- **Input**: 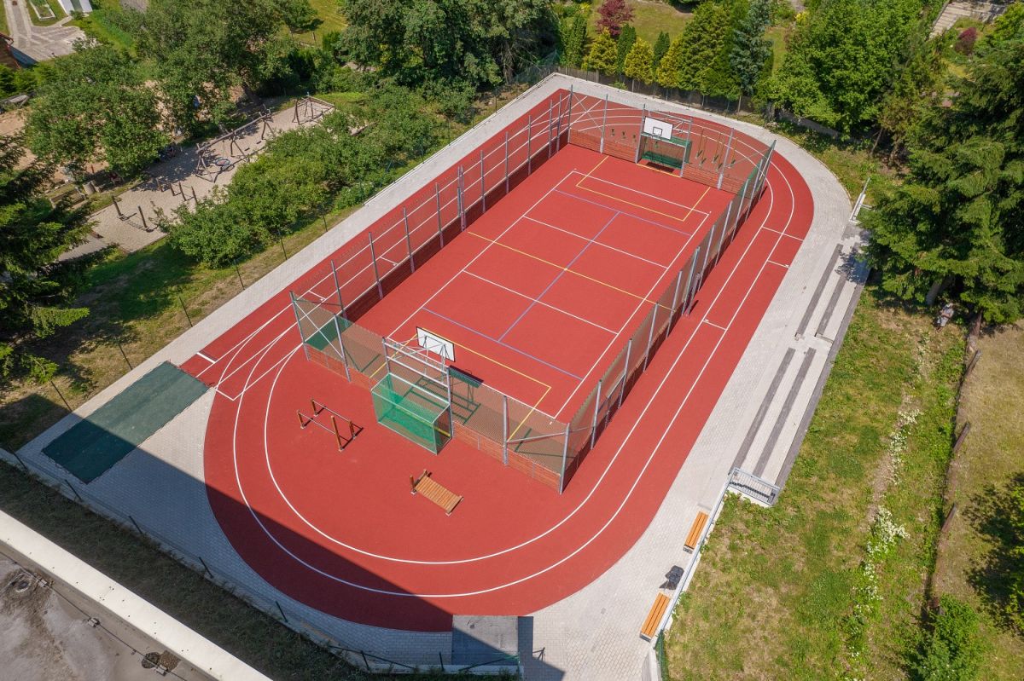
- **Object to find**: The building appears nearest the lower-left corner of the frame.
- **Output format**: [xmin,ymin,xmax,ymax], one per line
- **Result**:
[0,512,269,681]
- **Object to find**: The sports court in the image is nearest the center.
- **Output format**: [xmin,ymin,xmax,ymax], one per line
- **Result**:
[322,143,752,474]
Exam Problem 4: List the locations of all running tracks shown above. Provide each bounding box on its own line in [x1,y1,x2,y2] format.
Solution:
[181,89,814,628]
